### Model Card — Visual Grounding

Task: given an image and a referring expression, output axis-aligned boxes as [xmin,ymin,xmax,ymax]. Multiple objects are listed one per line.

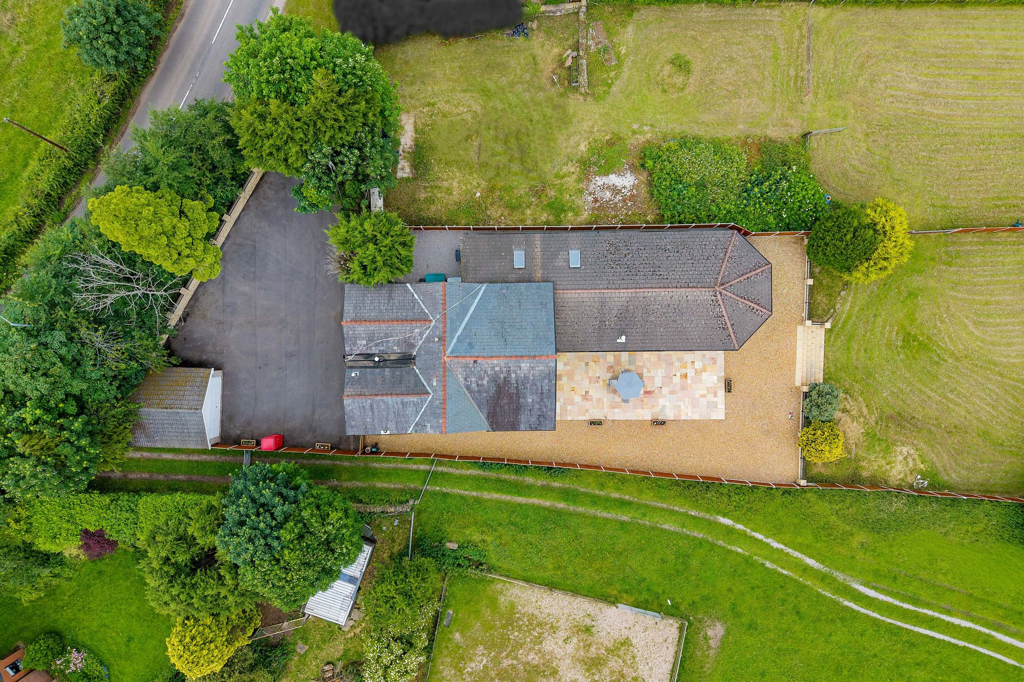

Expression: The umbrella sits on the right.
[615,372,645,398]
